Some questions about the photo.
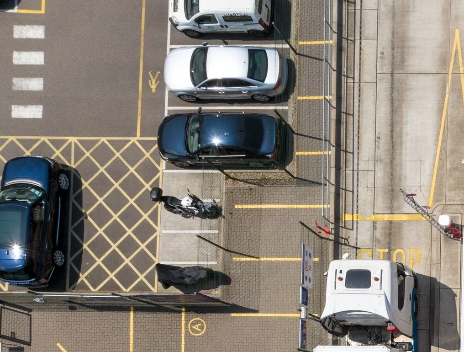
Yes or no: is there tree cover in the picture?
No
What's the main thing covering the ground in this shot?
paved ground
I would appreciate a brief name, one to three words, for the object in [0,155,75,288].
car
